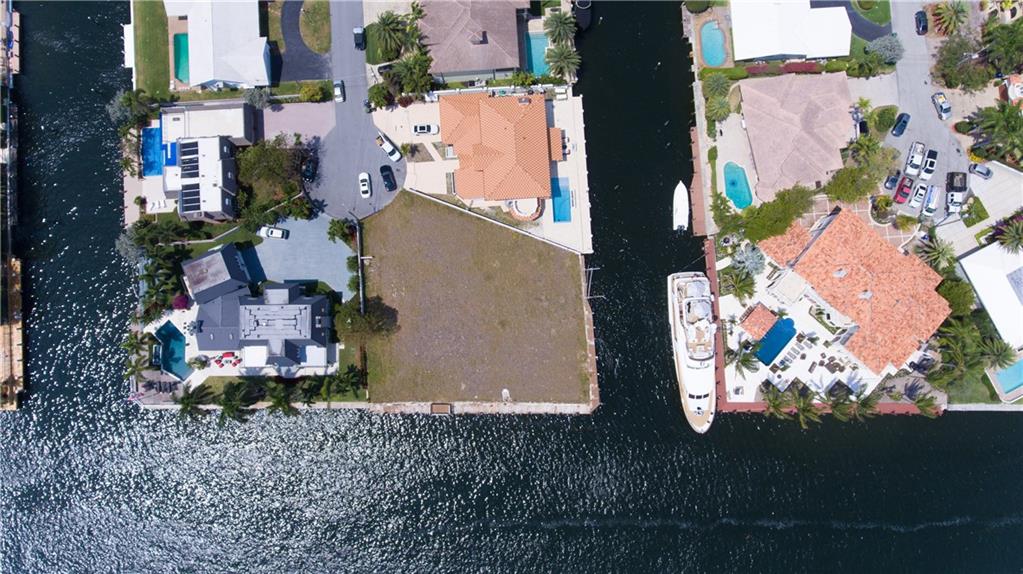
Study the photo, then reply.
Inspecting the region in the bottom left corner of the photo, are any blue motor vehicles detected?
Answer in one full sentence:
No, there's no blue motor vehicle to be seen in the bottom left corner of the photo.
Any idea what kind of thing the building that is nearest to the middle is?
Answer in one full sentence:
The building that is nearest to the middle appears to be a residential house.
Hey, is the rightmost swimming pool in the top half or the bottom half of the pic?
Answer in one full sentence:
The rightmost swimming pool is in the bottom half of the image.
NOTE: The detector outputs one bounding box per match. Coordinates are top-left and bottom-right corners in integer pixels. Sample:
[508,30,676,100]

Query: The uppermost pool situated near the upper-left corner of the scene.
[173,32,190,85]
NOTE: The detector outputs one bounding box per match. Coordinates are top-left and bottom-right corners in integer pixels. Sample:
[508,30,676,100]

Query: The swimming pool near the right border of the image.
[992,359,1023,397]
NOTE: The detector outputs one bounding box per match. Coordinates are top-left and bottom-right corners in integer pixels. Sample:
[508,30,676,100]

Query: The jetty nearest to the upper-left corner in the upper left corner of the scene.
[12,12,25,75]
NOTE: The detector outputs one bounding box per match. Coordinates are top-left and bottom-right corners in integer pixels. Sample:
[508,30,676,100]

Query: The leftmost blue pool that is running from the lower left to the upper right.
[754,316,799,367]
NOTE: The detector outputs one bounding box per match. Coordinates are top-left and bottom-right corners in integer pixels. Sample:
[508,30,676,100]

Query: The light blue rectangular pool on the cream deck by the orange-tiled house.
[550,177,572,224]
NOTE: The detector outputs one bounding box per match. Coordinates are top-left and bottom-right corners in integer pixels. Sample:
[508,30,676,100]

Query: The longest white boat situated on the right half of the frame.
[667,264,718,433]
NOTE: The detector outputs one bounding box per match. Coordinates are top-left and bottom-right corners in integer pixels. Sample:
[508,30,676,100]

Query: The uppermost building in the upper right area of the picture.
[729,0,852,64]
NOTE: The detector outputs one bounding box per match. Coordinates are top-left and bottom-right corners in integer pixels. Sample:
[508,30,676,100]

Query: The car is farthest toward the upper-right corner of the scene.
[913,10,928,36]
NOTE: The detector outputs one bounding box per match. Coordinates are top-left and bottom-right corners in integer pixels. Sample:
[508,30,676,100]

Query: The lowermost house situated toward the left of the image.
[182,243,342,369]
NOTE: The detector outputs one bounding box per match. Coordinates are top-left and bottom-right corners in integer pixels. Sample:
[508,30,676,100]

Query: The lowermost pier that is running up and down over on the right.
[703,240,727,411]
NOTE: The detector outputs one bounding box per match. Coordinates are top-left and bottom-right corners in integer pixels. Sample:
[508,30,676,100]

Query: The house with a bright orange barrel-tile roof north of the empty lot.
[439,94,563,201]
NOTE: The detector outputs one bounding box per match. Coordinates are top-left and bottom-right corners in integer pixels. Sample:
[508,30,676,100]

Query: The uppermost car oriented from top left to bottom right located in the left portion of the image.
[374,133,403,162]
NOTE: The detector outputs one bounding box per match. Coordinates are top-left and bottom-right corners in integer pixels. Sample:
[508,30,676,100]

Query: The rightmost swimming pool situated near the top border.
[699,19,727,66]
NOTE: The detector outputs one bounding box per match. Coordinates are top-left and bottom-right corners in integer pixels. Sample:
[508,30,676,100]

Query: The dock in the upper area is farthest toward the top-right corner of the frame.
[680,3,694,39]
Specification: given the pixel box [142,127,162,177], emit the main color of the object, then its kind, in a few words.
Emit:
blue swimming pool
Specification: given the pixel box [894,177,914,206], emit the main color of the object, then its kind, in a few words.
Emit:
red car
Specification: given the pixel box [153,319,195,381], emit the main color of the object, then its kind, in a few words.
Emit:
blue swimming pool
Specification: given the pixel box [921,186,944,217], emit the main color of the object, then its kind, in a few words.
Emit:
white vehicle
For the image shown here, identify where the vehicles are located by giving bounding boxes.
[921,186,944,217]
[374,133,403,162]
[930,88,953,121]
[905,142,924,178]
[968,163,993,180]
[353,27,365,51]
[375,64,398,77]
[334,80,345,104]
[946,168,966,212]
[381,165,397,192]
[909,183,927,209]
[883,170,901,192]
[414,123,439,135]
[891,112,910,138]
[913,10,928,36]
[260,226,288,238]
[919,149,938,181]
[303,153,318,180]
[894,177,914,206]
